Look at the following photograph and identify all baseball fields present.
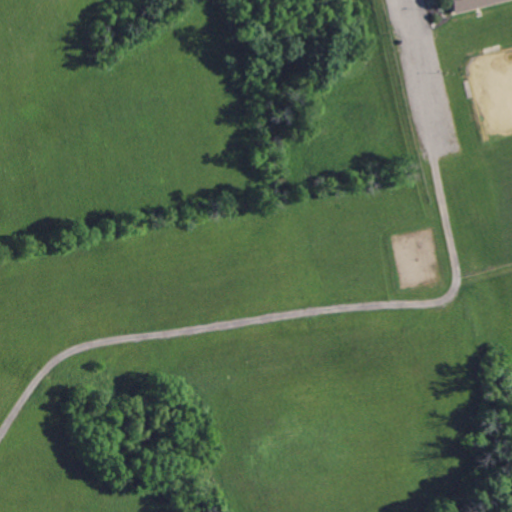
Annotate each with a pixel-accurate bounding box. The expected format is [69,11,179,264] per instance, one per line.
[467,48,512,141]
